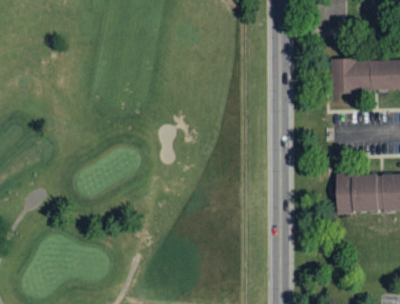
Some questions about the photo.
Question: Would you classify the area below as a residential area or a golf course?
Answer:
golf course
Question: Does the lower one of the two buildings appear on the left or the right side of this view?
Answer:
right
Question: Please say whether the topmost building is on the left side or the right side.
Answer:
right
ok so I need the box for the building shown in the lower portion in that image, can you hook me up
[336,174,400,215]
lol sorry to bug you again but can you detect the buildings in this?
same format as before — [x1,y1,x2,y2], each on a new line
[331,60,400,95]
[336,174,400,215]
